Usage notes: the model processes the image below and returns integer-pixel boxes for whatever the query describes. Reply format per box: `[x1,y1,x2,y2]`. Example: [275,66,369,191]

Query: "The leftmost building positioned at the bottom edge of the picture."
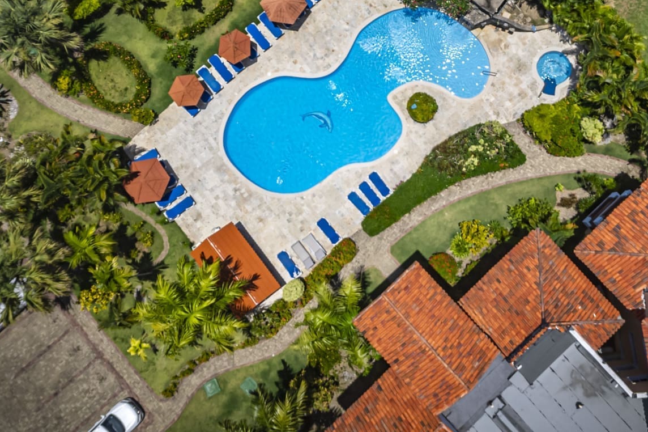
[327,260,501,432]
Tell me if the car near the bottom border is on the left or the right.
left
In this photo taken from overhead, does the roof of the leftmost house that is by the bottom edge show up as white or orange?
orange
